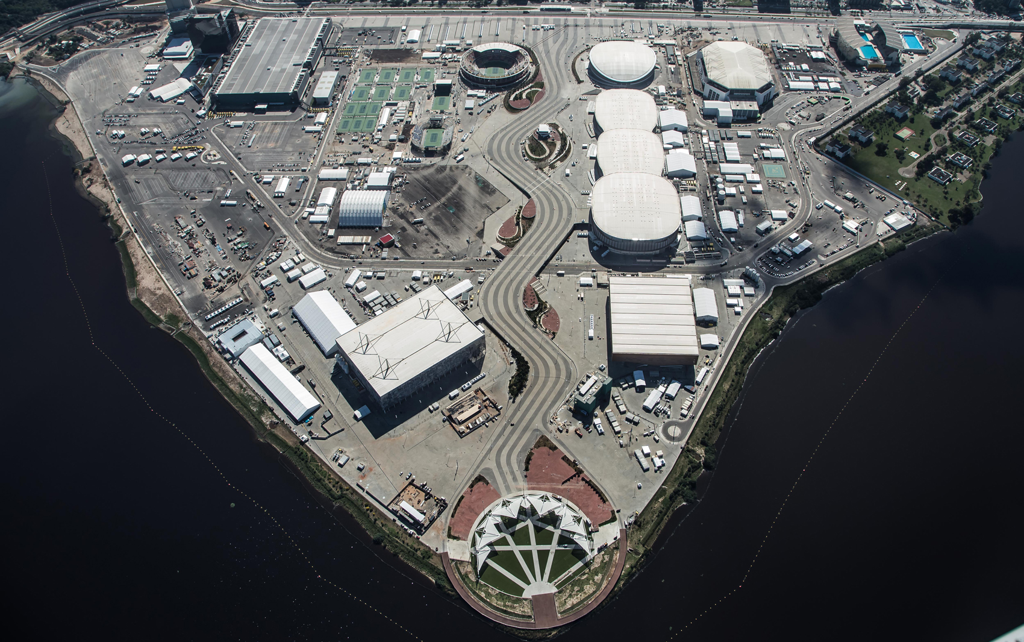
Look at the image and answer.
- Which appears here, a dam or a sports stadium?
sports stadium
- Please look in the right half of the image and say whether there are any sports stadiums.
Yes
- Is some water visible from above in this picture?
Yes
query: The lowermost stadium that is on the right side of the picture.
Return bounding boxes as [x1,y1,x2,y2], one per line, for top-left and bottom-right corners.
[596,273,698,365]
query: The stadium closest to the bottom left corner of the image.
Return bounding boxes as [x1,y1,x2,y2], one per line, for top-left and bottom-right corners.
[336,283,485,410]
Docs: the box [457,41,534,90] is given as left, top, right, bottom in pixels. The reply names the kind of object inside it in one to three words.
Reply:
stadium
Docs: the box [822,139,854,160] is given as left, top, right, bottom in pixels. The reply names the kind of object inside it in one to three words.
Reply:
house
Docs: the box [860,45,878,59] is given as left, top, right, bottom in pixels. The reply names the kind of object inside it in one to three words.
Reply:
swimming pool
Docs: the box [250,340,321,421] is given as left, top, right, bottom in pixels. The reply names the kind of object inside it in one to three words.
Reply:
tent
